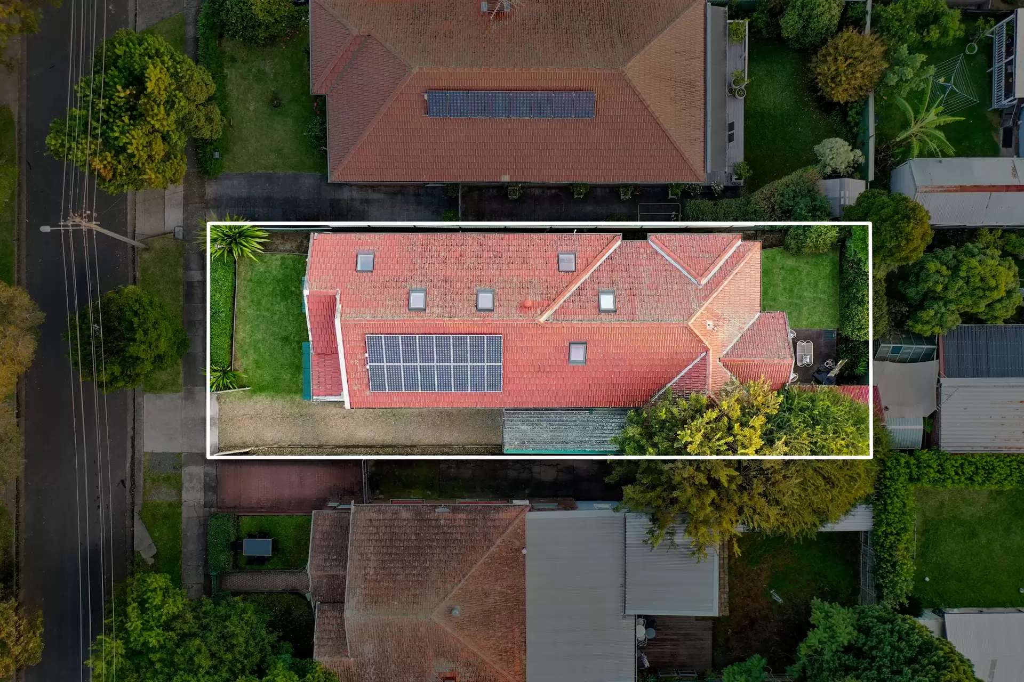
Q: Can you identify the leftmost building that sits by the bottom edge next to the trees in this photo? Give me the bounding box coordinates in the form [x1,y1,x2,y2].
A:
[305,493,718,682]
